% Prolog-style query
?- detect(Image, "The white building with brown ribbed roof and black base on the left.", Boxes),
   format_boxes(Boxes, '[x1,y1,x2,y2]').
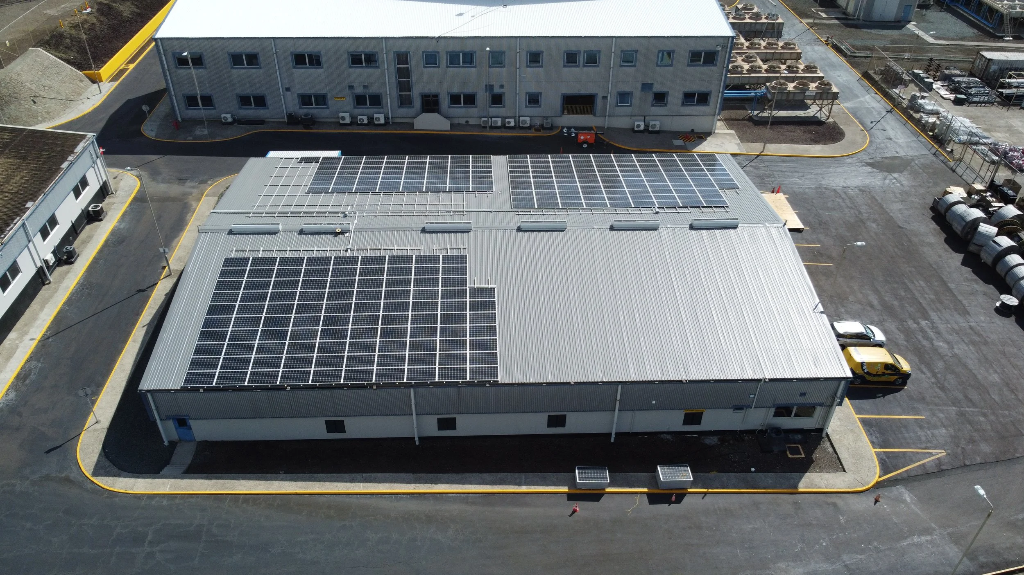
[0,122,114,346]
